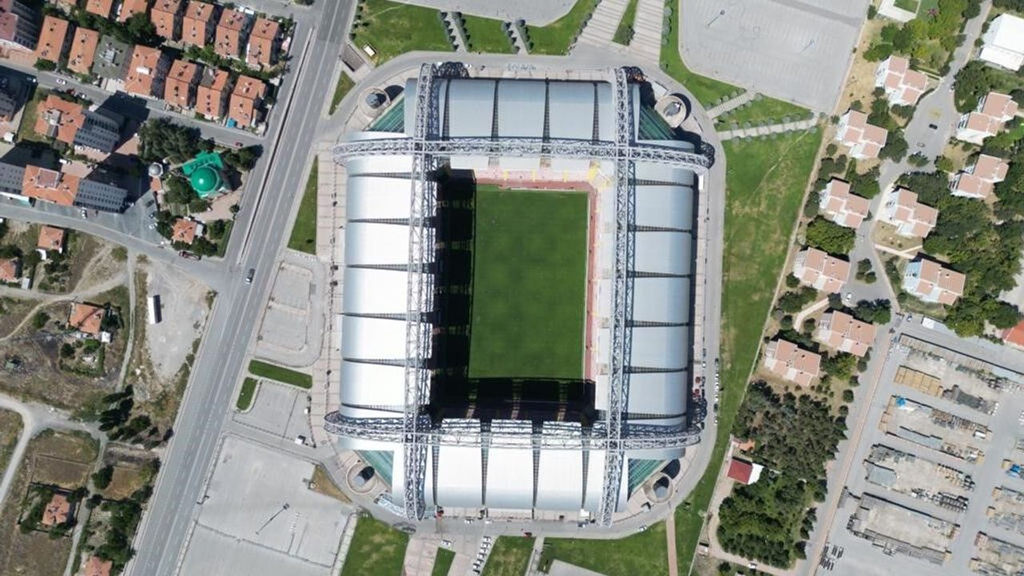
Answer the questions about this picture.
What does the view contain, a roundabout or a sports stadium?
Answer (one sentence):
The one in the frame is a sports stadium.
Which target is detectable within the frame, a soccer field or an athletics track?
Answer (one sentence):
It is a soccer field that can be seen here.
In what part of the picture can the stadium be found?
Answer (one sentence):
You can find the stadium in the center area of the picture.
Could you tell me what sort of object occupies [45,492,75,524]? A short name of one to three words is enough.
house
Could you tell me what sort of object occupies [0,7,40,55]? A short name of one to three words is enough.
building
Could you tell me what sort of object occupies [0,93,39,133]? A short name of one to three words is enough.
building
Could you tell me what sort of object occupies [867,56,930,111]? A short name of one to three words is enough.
house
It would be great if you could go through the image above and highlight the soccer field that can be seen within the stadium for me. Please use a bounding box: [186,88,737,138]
[437,178,598,409]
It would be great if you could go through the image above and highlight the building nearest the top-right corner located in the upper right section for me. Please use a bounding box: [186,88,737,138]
[956,20,1024,86]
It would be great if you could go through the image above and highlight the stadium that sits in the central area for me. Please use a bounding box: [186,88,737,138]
[326,61,710,526]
